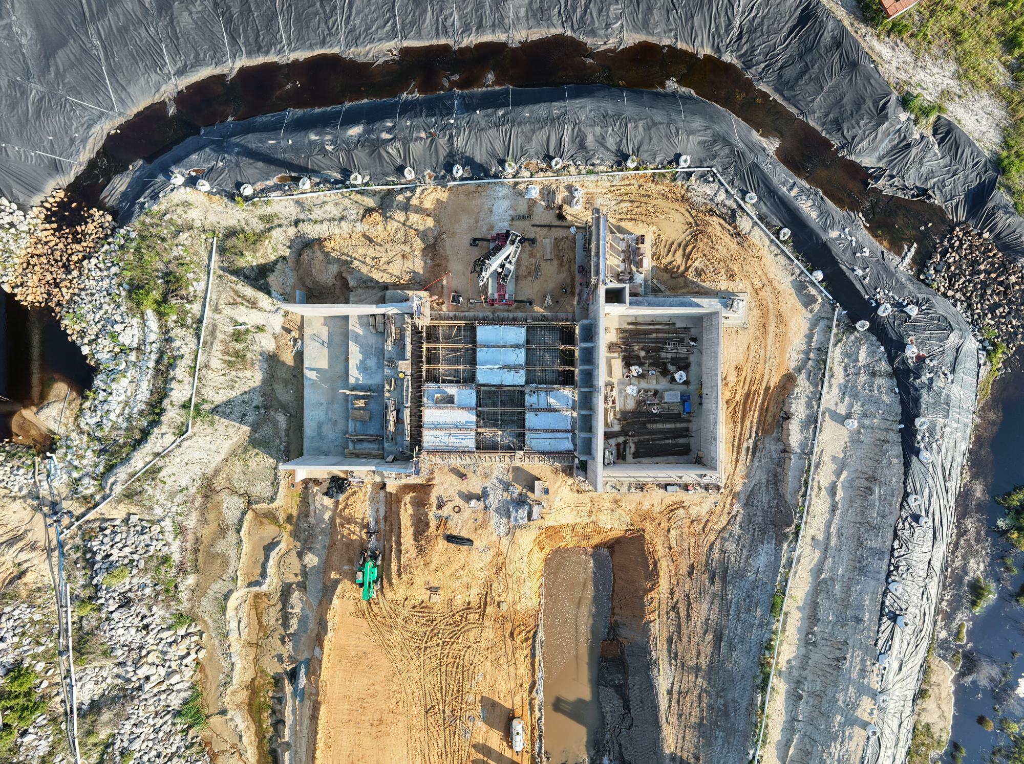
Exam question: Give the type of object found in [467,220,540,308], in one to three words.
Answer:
crane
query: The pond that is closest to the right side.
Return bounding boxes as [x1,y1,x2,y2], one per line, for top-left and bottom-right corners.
[543,549,611,764]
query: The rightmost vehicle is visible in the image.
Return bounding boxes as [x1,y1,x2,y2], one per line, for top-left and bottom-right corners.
[509,717,524,758]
